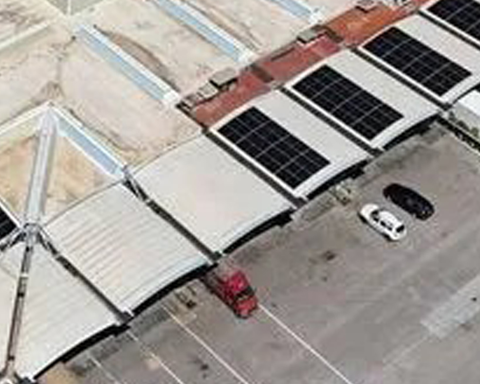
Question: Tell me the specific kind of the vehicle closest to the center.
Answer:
truck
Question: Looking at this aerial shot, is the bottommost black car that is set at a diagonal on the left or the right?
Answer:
right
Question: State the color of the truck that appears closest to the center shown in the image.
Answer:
red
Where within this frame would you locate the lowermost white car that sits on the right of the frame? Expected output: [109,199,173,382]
[361,202,406,236]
